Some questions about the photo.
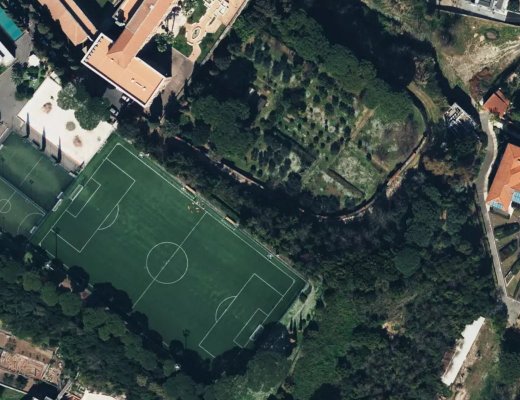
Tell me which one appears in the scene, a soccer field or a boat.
soccer field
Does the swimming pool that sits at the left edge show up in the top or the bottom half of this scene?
top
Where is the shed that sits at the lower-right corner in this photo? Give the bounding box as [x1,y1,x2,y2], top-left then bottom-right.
[438,316,486,386]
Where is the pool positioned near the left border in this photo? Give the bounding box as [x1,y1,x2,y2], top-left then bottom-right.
[0,7,23,41]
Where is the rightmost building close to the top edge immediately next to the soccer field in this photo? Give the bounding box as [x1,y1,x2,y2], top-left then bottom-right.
[82,0,186,107]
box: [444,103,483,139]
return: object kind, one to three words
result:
building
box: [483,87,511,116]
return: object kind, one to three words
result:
house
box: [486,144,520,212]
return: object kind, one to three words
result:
house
